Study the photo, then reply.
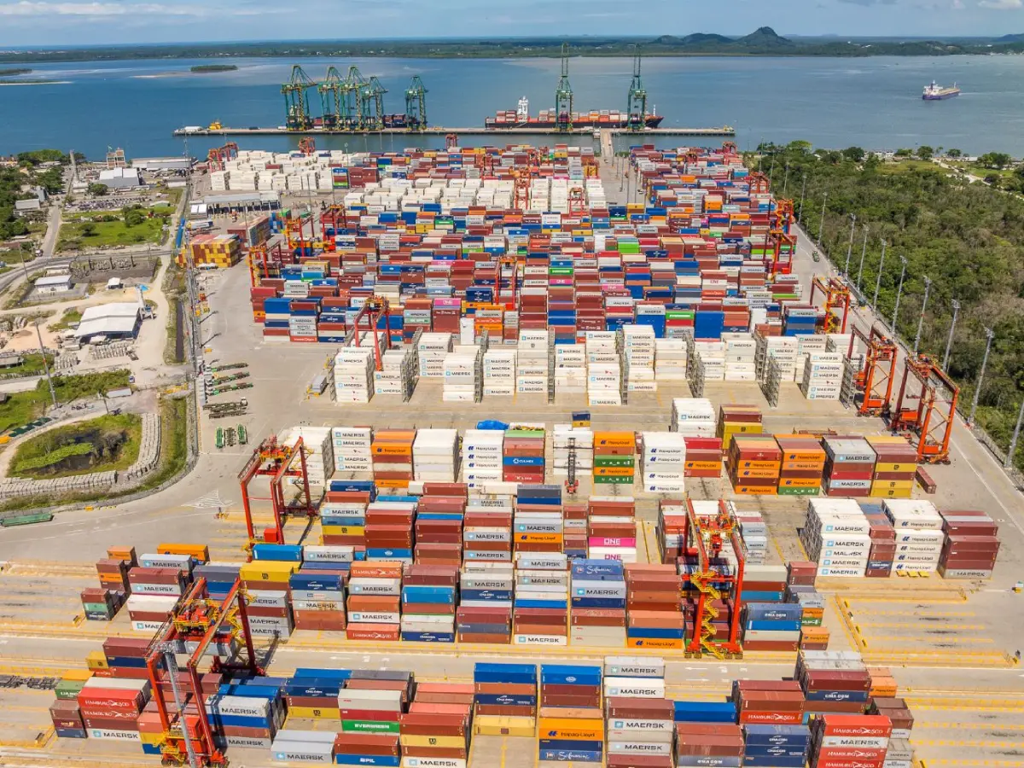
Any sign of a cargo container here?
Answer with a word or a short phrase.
Yes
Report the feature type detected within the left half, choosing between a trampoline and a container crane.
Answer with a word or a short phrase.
container crane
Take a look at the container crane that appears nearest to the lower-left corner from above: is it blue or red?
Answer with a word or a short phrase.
red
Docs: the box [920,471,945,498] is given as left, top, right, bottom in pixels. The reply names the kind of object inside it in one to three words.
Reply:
shipping container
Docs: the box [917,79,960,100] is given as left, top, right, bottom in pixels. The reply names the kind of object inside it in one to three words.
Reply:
ship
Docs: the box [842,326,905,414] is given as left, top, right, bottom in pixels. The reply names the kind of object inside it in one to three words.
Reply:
container crane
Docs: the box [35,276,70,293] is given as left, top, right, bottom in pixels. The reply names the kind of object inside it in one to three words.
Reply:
building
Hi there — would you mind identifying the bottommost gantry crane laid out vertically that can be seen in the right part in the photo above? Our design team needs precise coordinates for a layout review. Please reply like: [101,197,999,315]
[677,500,751,659]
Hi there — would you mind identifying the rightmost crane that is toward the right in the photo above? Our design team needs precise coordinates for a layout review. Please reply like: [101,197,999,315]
[886,364,972,467]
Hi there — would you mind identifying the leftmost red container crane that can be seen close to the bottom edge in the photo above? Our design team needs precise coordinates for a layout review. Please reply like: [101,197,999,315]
[139,573,274,764]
